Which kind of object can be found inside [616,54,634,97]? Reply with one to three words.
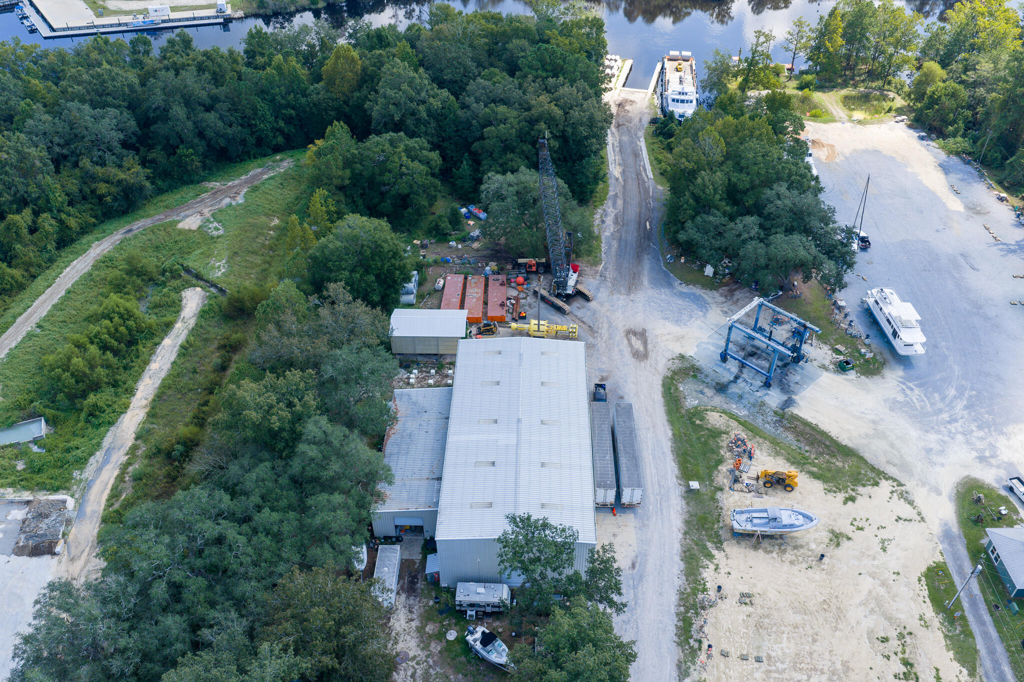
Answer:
pier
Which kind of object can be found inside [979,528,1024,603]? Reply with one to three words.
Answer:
building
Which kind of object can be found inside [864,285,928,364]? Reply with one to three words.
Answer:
boat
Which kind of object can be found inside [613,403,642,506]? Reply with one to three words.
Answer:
trailer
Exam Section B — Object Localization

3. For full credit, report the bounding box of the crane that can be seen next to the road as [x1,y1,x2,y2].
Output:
[535,131,593,314]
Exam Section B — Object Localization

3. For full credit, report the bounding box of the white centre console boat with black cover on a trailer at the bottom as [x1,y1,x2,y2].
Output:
[464,622,511,667]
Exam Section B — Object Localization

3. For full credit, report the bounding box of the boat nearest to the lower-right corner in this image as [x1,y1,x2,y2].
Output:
[727,509,820,542]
